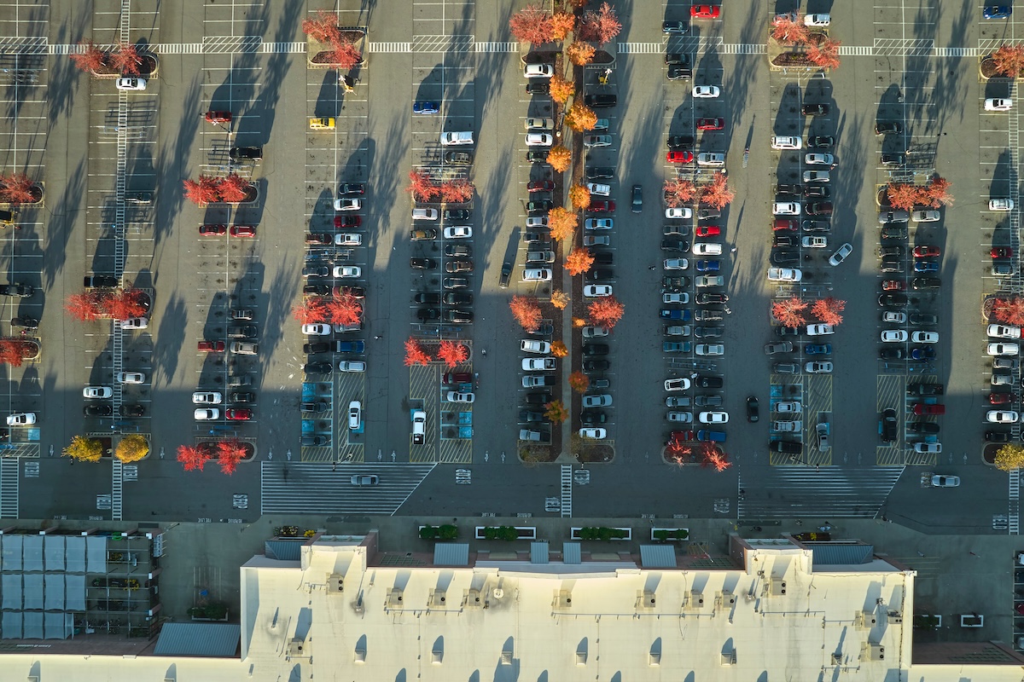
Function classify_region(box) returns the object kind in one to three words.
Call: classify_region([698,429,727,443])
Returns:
vehicle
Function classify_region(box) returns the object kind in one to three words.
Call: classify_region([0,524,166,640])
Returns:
building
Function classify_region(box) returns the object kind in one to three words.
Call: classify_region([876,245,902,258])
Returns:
vehicle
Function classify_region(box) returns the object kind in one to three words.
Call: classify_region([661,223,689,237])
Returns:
car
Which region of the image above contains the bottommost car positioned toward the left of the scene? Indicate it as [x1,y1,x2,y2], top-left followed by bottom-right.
[350,474,380,487]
